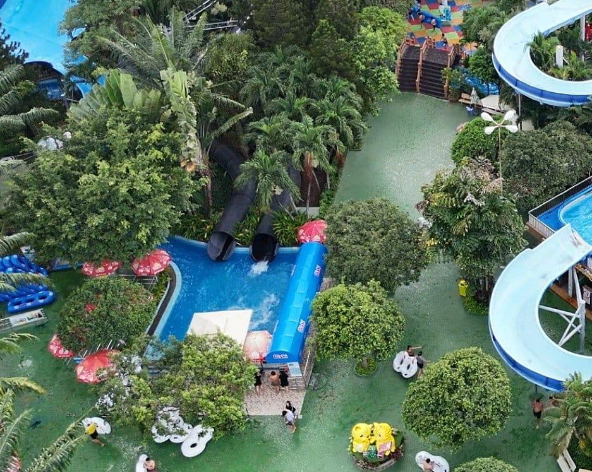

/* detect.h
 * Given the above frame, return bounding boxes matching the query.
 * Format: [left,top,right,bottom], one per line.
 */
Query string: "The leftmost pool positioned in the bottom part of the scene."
[136,229,298,374]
